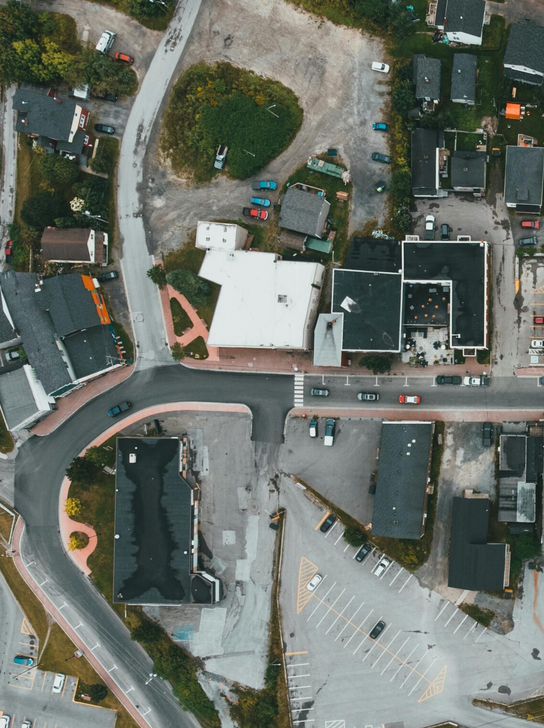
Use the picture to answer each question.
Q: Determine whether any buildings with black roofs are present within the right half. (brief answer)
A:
Yes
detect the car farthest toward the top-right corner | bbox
[369,60,390,73]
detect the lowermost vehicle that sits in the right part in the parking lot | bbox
[369,620,386,640]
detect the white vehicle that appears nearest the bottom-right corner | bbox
[374,558,390,578]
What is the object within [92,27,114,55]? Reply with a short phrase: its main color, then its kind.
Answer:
white vehicle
